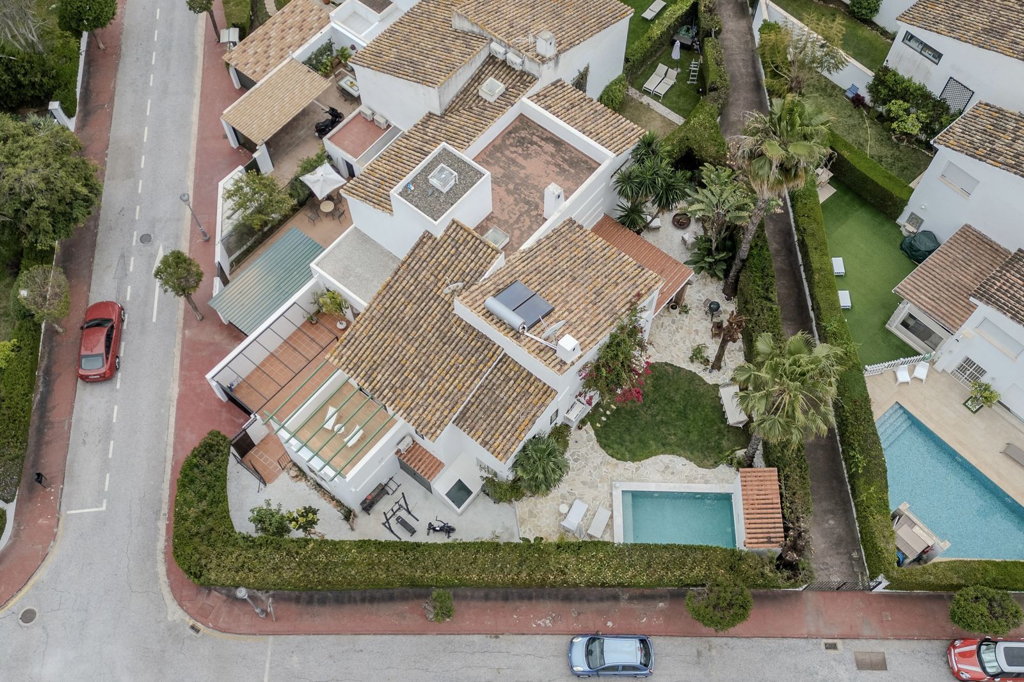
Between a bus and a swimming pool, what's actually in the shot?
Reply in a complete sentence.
This aerial view contains a swimming pool.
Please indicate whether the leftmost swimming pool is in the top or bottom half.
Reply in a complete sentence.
Seen from above, the leftmost swimming pool lies in the bottom half of the view.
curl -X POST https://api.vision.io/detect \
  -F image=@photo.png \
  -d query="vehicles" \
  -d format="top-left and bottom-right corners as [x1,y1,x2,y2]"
[77,306,127,387]
[942,633,1024,682]
[315,108,338,141]
[569,630,655,679]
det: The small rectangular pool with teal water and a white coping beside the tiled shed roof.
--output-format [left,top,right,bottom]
[613,483,743,554]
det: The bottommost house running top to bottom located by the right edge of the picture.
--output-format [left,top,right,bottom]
[880,94,1024,427]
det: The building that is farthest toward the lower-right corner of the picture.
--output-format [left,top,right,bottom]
[894,501,951,558]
